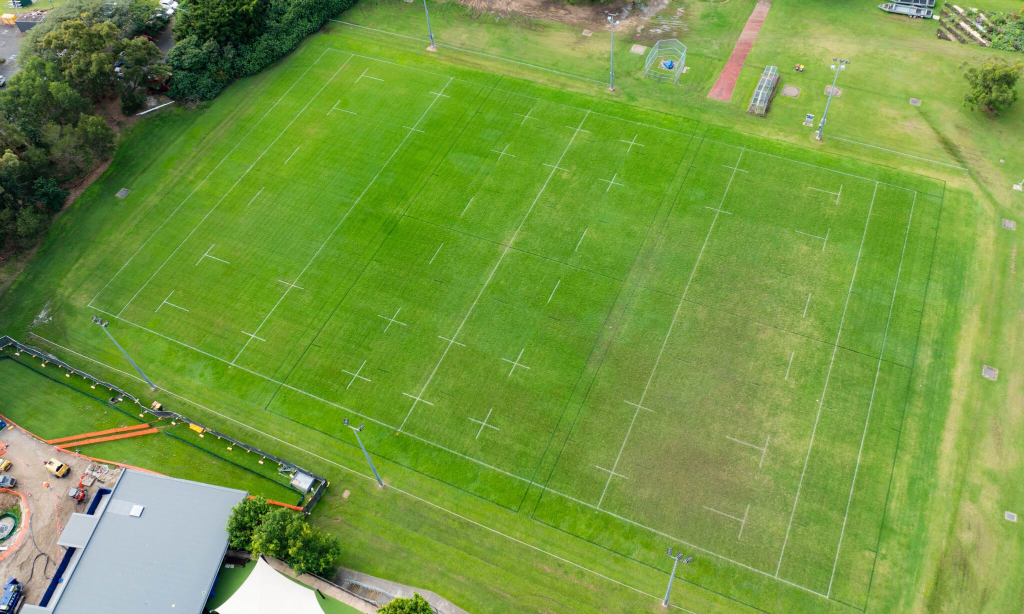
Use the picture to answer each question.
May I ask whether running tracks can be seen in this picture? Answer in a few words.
Yes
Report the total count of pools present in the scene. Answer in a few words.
0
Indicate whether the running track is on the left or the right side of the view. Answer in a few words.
right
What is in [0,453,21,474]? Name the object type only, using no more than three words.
work vehicle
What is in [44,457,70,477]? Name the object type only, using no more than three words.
vehicle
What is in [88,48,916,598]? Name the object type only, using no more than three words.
sports field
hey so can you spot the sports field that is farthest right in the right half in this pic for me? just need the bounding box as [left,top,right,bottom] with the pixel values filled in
[532,124,946,614]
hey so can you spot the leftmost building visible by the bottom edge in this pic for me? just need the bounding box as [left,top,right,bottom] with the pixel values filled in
[19,468,249,614]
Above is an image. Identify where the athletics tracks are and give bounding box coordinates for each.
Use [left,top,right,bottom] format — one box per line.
[708,1,772,101]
